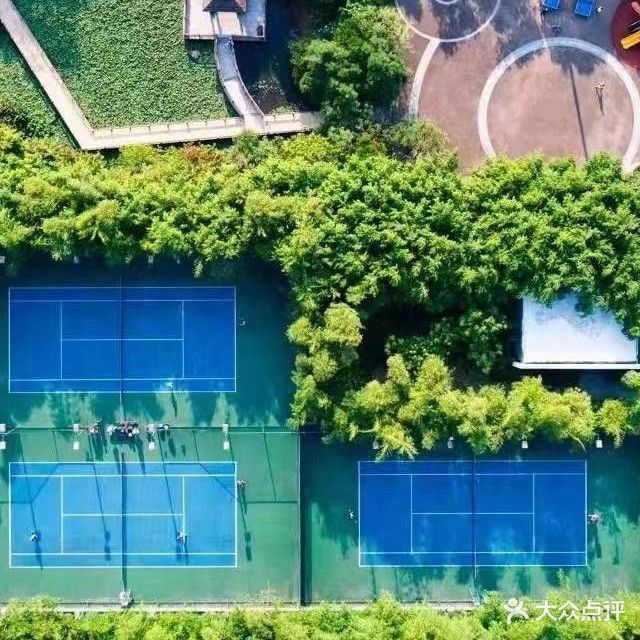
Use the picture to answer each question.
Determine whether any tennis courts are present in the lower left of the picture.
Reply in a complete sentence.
Yes, a tennis court can be seen in the lower left of the picture.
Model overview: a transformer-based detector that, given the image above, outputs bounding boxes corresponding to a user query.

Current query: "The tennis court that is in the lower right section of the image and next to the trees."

[300,431,640,603]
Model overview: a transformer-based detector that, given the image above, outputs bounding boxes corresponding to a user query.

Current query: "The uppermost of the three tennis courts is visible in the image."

[0,254,299,429]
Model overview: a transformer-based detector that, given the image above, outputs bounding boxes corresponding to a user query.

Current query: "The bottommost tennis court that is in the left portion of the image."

[0,429,299,603]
